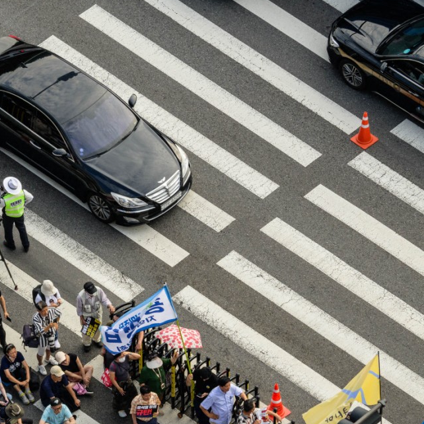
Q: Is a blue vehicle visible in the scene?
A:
No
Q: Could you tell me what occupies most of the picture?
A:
paved ground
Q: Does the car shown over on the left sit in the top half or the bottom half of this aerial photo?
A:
top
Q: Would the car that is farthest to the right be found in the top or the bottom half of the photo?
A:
top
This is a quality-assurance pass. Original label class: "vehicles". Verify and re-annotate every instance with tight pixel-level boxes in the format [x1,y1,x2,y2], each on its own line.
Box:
[324,1,424,131]
[0,34,196,228]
